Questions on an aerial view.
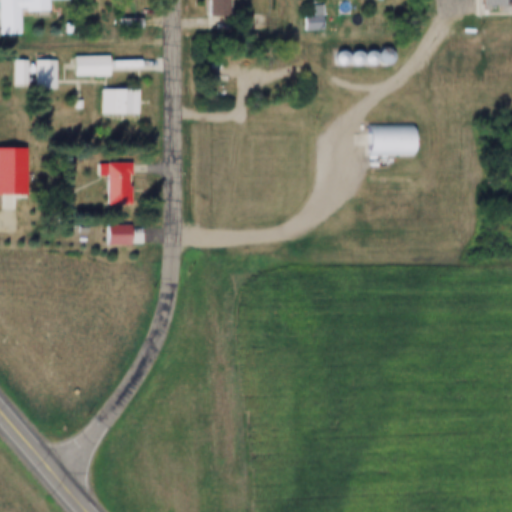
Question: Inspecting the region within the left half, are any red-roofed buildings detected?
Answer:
Yes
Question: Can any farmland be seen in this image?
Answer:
Yes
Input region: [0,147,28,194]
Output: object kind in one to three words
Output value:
barn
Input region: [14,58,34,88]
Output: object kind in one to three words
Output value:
house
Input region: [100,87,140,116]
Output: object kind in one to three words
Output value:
house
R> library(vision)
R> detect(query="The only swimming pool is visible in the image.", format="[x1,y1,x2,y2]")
[338,0,352,16]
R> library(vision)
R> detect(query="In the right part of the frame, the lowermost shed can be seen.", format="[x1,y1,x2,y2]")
[369,124,420,157]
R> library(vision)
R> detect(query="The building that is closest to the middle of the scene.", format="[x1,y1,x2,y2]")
[108,226,144,246]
